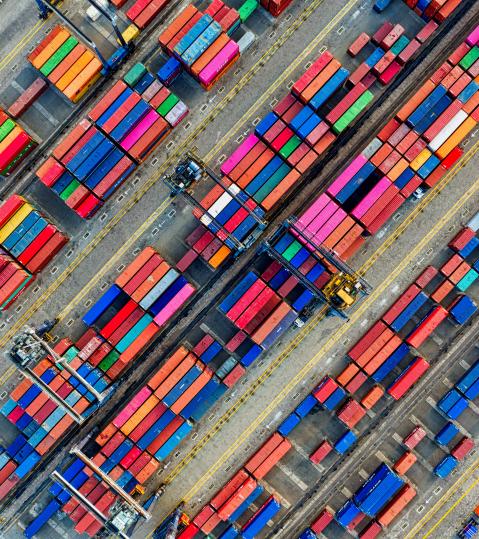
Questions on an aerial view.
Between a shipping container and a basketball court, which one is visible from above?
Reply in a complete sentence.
There is a shipping container in the scene.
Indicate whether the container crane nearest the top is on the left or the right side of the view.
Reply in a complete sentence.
The container crane nearest the top is on the left side of the image.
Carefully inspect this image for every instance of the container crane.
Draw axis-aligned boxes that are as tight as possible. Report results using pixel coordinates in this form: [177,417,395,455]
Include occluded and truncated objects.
[256,222,365,318]
[36,0,136,79]
[166,151,267,256]
[2,316,123,424]
[151,501,187,539]
[52,424,166,539]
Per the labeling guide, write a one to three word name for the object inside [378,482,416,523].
shipping container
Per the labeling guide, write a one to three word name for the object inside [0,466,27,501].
shipping container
